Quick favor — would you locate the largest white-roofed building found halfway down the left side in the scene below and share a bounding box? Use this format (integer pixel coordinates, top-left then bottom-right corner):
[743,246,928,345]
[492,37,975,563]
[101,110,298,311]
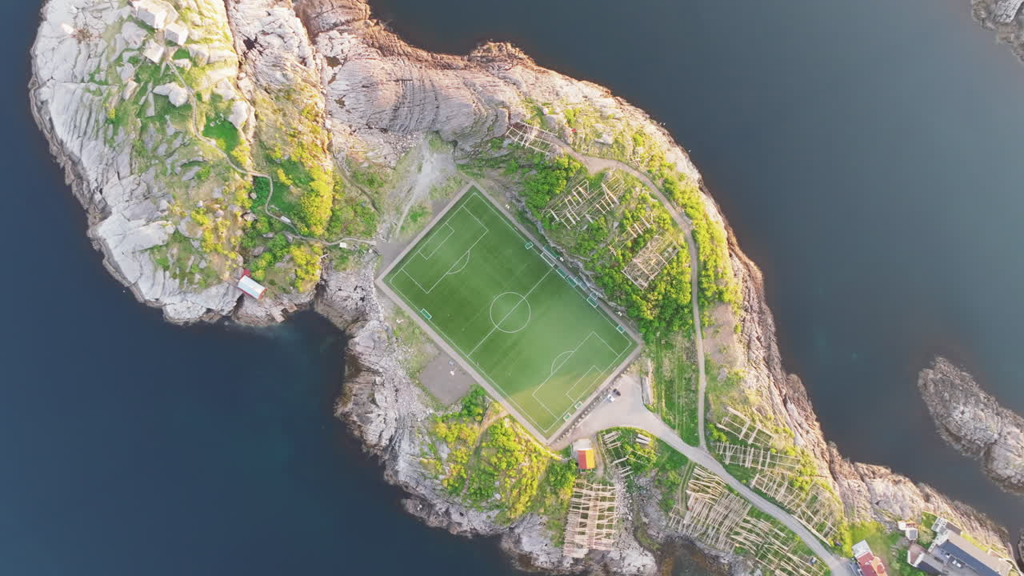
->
[239,275,267,299]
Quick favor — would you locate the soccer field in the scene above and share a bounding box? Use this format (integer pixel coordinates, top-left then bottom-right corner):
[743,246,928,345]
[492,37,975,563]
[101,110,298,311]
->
[383,186,638,438]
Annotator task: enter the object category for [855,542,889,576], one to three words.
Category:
house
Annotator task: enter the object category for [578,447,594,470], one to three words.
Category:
house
